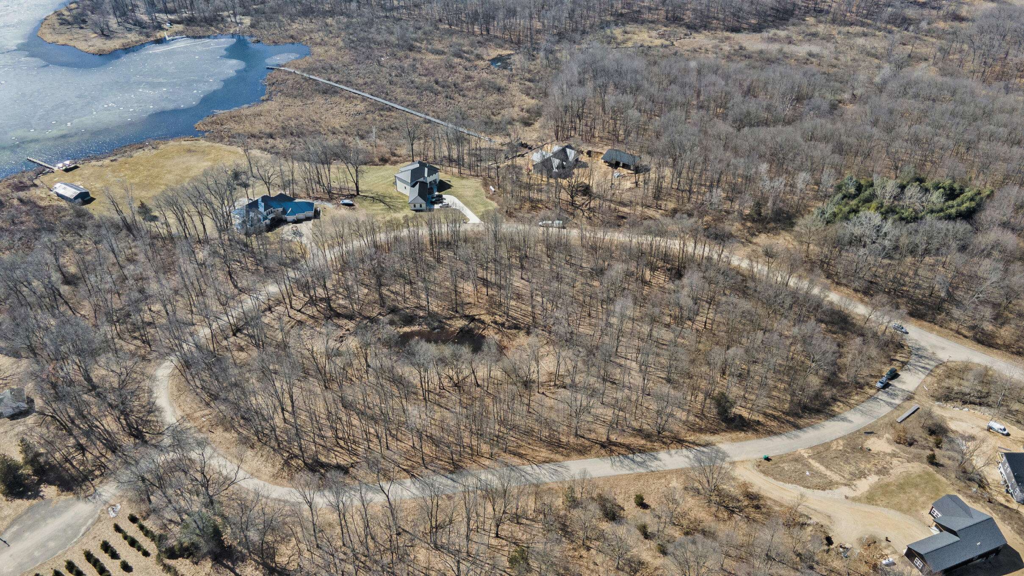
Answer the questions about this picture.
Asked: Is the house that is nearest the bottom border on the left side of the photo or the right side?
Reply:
right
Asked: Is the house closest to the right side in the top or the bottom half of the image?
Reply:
bottom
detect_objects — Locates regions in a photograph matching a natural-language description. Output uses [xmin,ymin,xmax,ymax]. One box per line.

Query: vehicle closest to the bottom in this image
[986,415,1012,434]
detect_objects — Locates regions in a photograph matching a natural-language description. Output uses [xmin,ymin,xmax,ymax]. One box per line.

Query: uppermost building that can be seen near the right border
[992,446,1024,515]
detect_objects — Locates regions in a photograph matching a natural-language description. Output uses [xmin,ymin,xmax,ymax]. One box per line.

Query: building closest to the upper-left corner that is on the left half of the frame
[53,183,92,206]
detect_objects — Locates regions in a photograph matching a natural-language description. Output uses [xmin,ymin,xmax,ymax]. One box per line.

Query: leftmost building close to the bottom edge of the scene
[903,495,1004,576]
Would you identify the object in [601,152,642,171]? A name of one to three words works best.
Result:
building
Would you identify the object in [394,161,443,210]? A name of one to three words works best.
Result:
house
